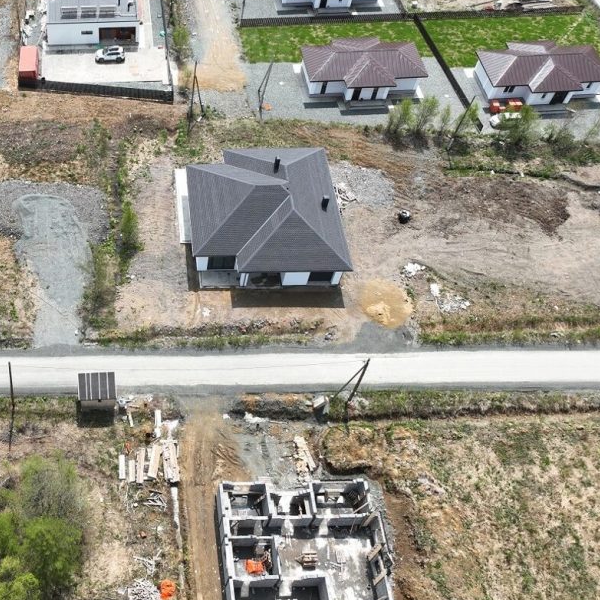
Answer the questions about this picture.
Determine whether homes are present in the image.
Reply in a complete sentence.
Yes, I can see a home in this picture.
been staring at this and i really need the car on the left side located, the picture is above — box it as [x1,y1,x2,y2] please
[96,46,124,62]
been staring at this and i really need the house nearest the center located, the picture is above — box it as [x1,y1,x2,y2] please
[178,147,359,290]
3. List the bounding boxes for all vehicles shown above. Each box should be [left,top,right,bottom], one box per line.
[490,113,522,130]
[96,46,124,62]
